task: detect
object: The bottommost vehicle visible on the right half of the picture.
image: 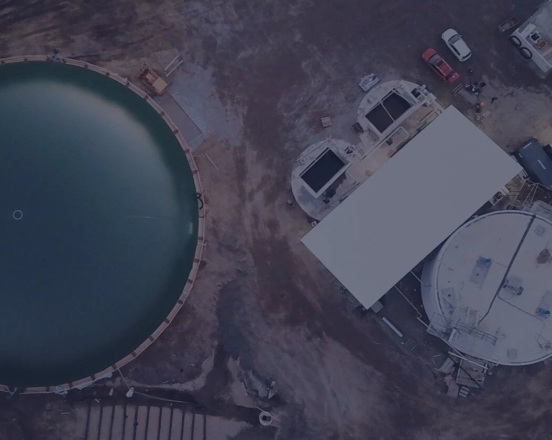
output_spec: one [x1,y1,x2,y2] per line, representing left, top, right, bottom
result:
[419,47,461,87]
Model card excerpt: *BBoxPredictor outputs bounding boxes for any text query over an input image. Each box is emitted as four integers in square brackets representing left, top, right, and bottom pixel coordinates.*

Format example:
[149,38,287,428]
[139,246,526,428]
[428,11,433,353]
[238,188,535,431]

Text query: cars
[419,47,461,87]
[437,27,475,66]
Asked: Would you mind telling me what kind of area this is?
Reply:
industrial area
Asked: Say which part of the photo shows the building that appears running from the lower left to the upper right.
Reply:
right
